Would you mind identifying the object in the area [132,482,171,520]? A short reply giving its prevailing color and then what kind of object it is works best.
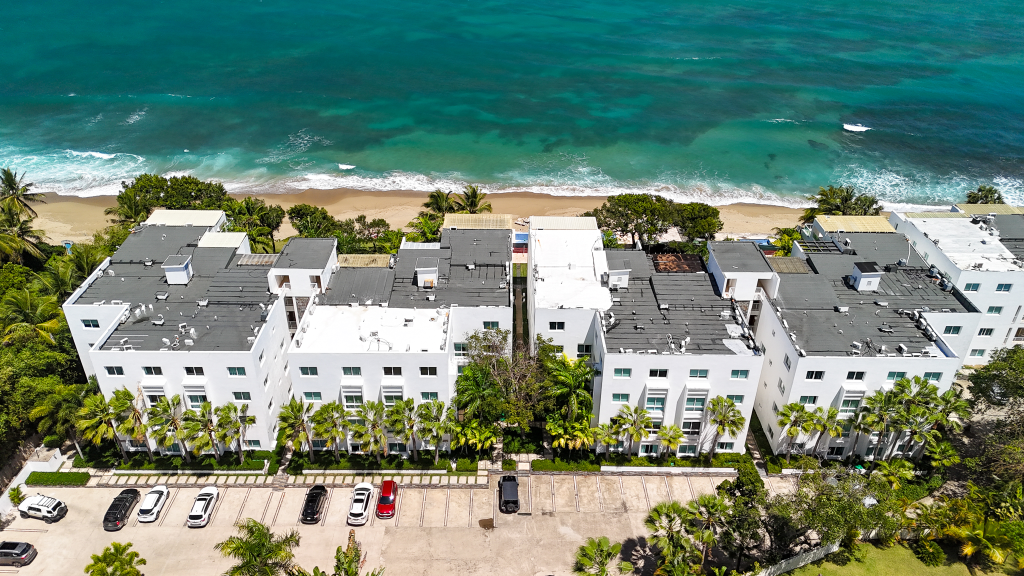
white car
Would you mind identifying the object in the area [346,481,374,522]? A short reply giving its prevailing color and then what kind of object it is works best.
white car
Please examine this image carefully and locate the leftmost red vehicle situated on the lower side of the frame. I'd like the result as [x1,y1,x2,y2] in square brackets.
[373,478,399,518]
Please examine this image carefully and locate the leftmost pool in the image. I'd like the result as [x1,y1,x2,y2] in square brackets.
[515,229,529,243]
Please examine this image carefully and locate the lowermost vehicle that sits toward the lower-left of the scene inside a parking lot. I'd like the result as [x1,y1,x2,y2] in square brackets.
[0,533,40,565]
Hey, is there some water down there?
Yes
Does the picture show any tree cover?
Yes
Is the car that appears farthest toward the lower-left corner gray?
Yes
